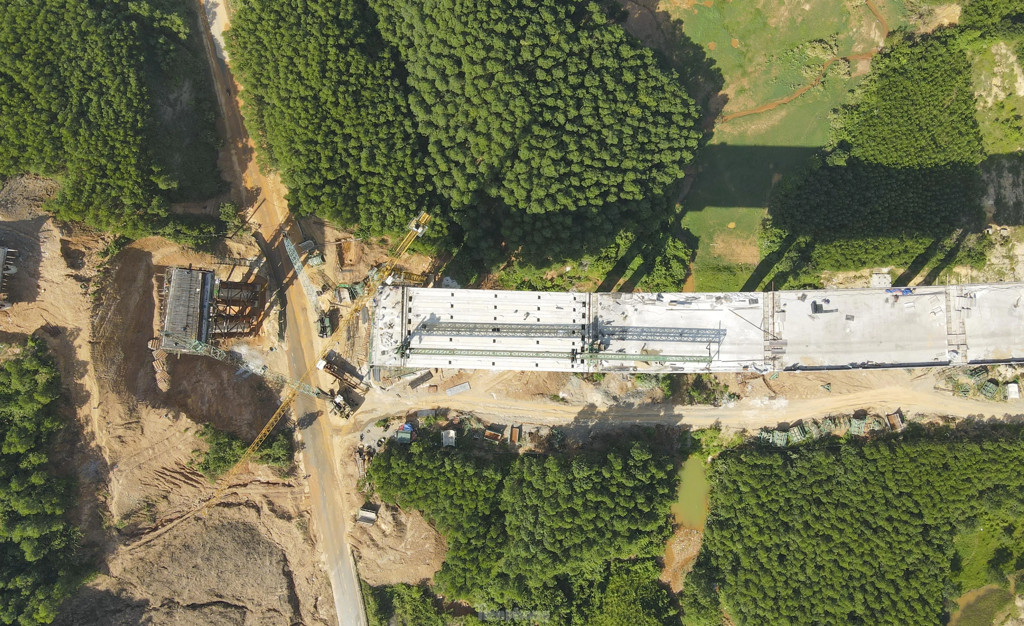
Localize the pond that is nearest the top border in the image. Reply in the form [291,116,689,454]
[671,456,709,529]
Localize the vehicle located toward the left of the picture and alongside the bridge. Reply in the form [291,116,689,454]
[316,362,373,401]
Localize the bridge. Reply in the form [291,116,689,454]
[371,281,1024,373]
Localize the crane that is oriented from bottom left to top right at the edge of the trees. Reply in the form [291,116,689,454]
[200,210,437,516]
